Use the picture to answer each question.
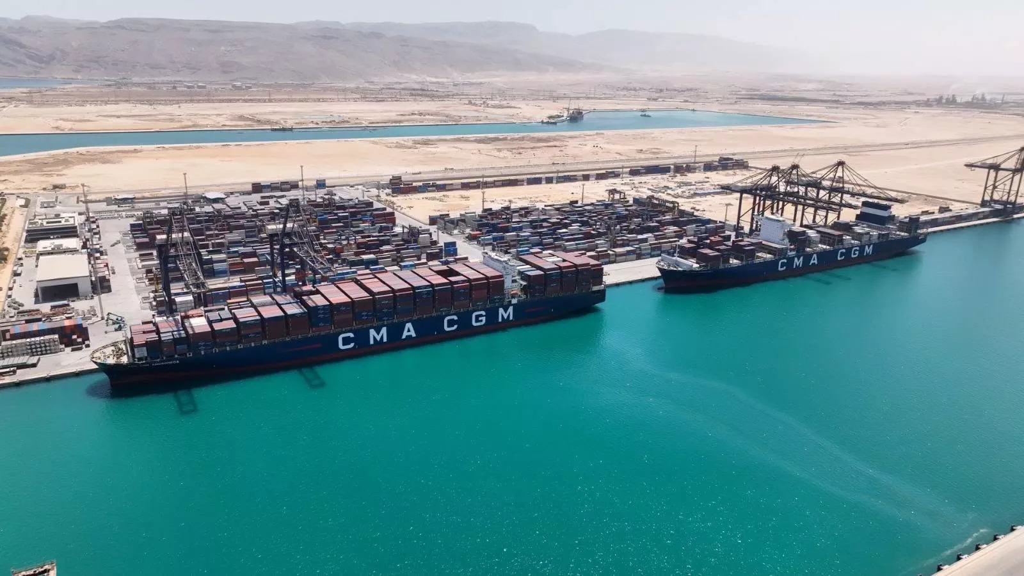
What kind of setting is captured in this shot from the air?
port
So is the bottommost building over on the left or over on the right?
left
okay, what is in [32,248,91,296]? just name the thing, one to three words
building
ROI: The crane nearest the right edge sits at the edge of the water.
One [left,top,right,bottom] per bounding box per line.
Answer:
[962,145,1024,216]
